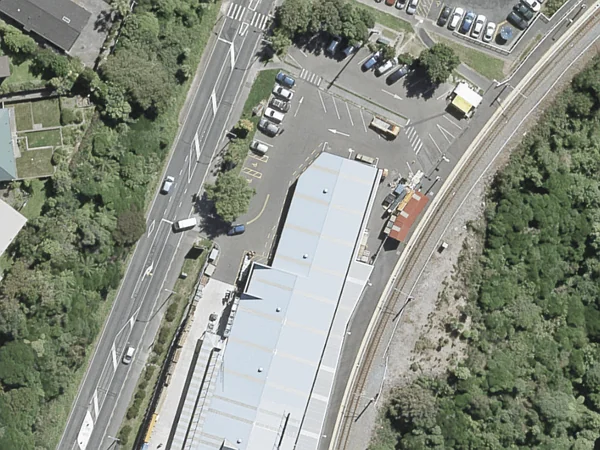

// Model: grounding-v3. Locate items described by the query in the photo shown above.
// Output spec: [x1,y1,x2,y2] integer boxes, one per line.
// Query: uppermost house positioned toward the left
[0,0,91,52]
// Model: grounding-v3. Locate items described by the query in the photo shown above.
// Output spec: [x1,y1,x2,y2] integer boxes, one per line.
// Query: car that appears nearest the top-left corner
[160,173,176,195]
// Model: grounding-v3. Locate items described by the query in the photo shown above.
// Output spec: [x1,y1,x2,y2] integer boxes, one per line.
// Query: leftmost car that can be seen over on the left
[122,343,136,366]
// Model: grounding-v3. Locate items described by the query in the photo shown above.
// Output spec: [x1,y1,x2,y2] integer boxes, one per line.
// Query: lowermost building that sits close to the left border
[0,198,28,253]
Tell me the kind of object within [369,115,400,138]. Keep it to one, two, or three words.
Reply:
truck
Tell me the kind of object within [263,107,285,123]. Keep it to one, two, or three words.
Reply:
car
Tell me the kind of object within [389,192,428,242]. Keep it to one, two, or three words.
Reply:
building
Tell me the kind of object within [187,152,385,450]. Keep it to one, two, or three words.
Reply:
building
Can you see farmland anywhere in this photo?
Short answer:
No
